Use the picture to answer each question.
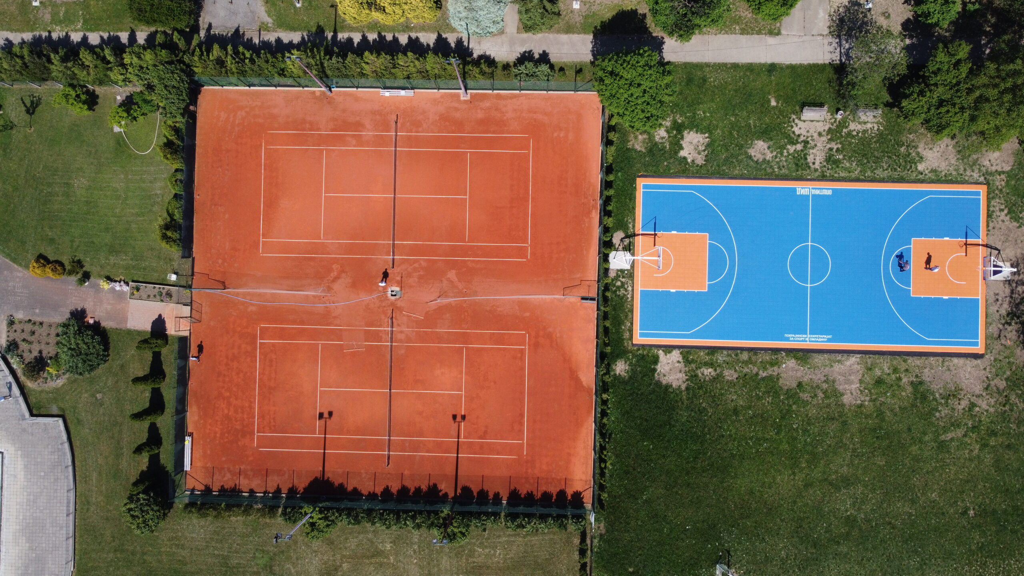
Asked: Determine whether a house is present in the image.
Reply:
No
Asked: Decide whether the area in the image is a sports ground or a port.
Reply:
sports ground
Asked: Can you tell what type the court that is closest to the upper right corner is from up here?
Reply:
basketball court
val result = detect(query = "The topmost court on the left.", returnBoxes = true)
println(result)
[192,88,600,296]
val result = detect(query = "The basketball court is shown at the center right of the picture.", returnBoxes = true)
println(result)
[632,175,987,358]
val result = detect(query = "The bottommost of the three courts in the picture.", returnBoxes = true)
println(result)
[186,287,596,505]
